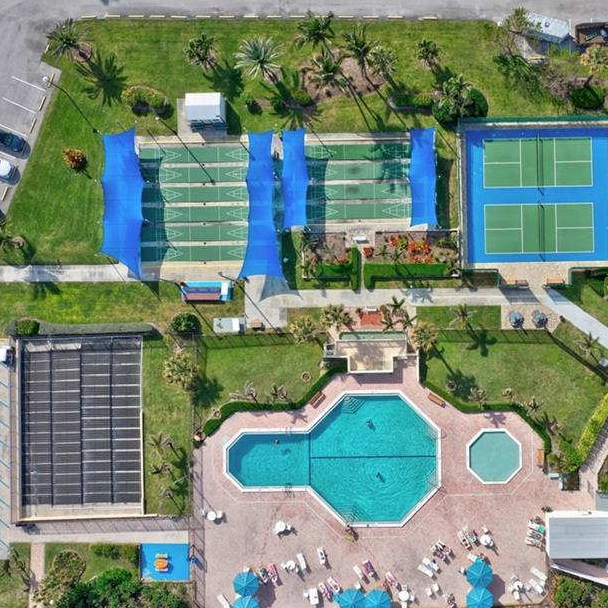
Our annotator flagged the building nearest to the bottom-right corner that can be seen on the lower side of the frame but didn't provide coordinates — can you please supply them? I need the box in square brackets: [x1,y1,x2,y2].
[546,511,608,560]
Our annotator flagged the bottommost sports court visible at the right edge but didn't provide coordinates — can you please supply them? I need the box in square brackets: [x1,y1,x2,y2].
[485,200,595,256]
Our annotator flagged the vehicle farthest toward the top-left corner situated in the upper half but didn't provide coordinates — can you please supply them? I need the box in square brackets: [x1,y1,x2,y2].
[0,128,28,155]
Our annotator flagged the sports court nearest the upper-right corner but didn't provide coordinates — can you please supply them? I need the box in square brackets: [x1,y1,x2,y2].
[484,133,593,190]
